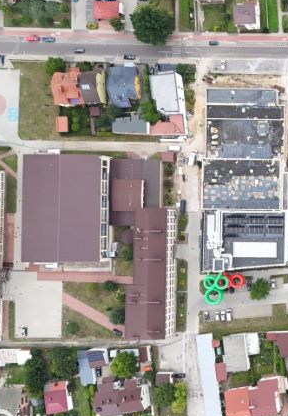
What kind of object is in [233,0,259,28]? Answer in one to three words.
house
